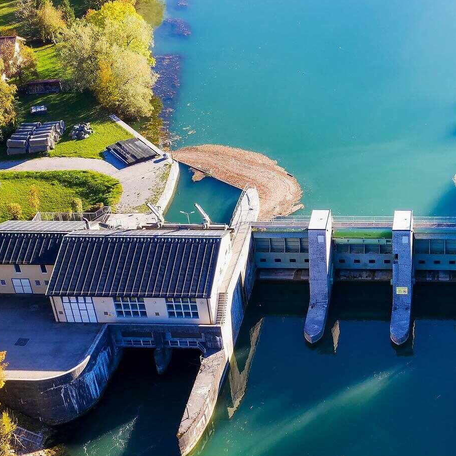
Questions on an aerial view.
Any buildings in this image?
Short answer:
Yes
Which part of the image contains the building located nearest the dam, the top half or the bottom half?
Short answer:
bottom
